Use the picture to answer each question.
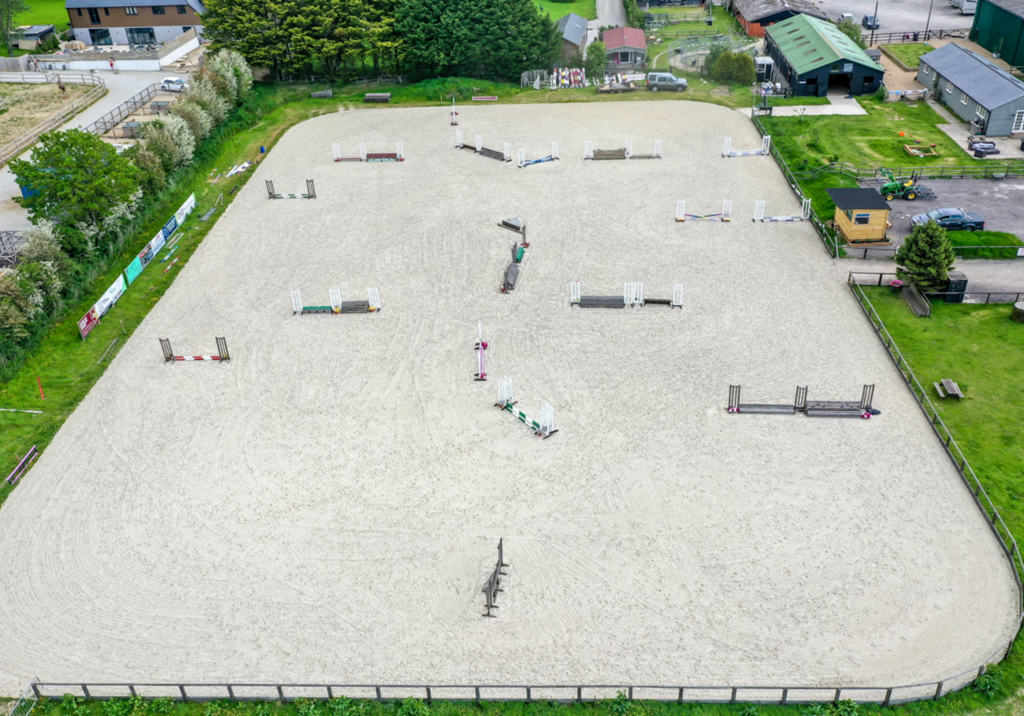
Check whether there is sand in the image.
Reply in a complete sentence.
Yes, sand shows up in the scene.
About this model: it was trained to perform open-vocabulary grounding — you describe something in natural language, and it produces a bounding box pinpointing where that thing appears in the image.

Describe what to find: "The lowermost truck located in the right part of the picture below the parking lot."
[906,198,985,231]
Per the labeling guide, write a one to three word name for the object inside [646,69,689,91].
car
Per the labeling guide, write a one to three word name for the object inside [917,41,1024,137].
house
